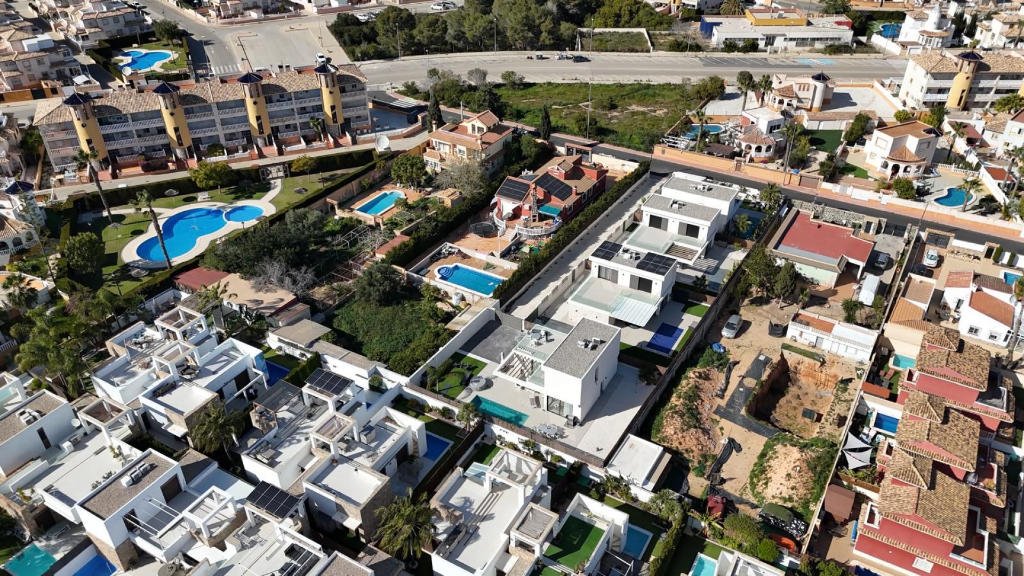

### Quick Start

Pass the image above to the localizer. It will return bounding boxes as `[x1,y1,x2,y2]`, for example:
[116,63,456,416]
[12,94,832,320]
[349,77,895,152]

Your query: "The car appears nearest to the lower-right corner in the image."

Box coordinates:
[758,495,809,535]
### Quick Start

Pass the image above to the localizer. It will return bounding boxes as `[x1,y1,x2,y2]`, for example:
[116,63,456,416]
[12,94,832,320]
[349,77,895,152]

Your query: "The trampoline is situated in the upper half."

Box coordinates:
[470,216,494,234]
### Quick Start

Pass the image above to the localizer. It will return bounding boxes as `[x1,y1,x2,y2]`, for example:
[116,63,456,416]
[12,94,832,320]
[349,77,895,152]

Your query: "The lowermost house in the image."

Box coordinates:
[716,536,791,576]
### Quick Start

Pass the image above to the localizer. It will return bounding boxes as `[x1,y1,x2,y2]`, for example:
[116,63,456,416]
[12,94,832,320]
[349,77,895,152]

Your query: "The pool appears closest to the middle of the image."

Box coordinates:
[434,262,497,288]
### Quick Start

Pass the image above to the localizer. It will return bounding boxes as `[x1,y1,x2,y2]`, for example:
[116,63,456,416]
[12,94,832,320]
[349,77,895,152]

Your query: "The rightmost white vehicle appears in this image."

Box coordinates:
[923,245,941,266]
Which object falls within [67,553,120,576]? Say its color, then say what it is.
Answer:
blue swimming pool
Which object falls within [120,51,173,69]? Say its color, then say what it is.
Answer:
blue swimming pool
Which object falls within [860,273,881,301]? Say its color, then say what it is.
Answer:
white vehicle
